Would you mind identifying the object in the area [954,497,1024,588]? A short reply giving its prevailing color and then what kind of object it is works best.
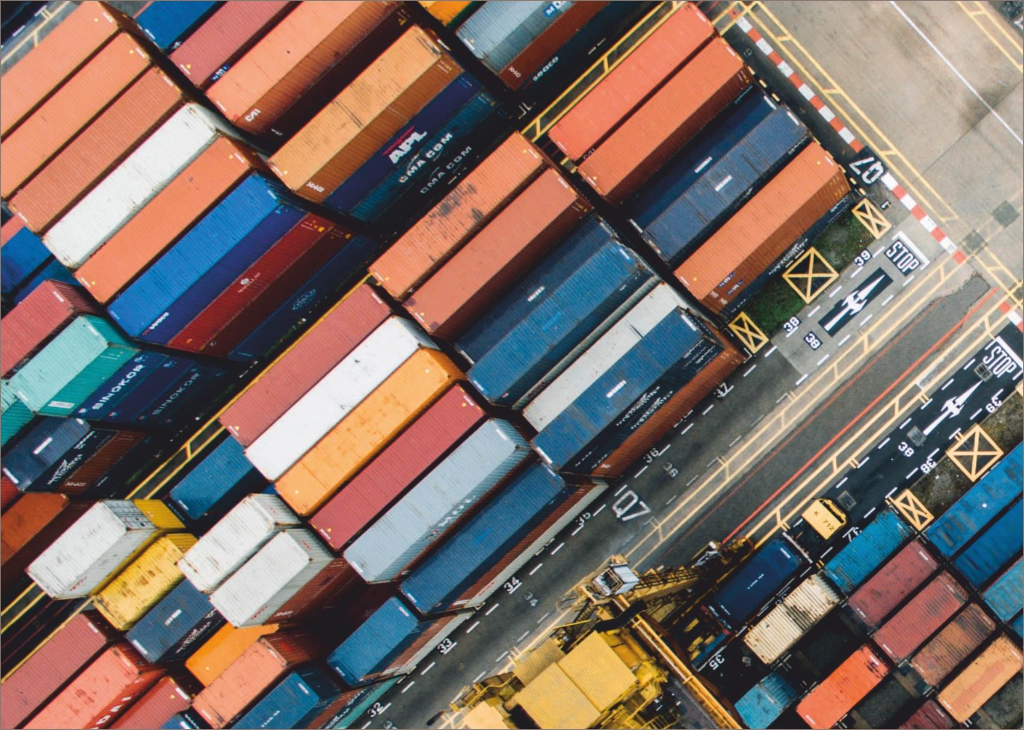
blue shipping container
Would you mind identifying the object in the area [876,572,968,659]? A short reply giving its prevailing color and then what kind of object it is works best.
red shipping container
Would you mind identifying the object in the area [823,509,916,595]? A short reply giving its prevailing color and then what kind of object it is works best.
blue shipping container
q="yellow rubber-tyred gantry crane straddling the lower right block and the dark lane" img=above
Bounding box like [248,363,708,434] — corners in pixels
[439,537,757,730]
